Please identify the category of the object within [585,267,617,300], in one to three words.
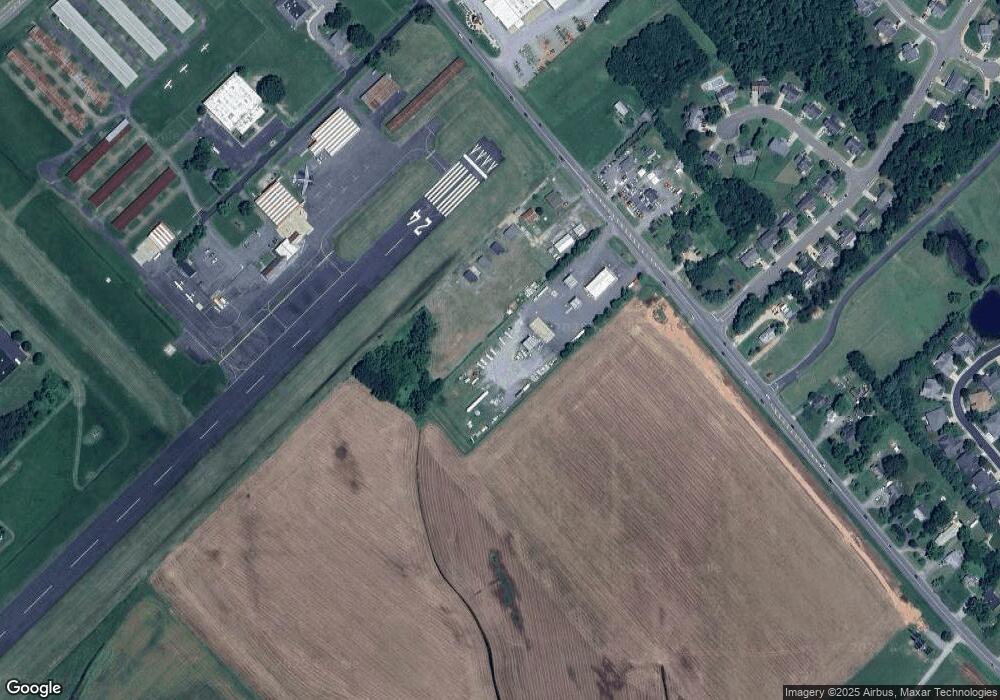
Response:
building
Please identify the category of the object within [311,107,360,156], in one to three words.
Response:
hangar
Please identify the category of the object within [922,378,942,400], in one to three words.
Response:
house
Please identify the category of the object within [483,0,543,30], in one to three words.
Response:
building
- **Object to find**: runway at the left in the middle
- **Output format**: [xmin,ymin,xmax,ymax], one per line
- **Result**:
[0,142,505,659]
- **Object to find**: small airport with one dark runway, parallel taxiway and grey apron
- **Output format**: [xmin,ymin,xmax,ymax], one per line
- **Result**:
[0,69,505,659]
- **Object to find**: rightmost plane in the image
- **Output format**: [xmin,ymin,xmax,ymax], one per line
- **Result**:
[293,165,312,195]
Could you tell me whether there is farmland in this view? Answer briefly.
Yes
